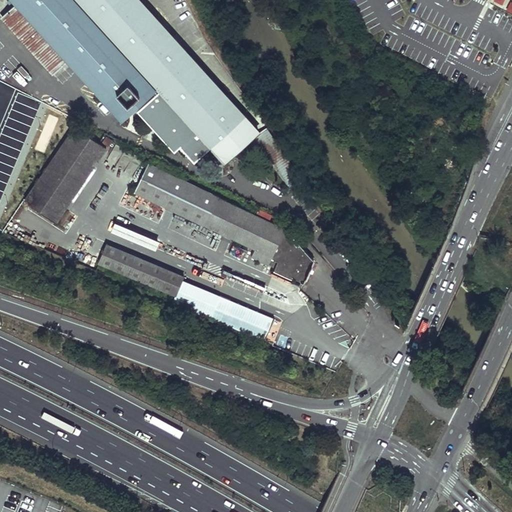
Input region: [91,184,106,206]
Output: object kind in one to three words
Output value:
vehicle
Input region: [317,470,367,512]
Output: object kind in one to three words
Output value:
overpass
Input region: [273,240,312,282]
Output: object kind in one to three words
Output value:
building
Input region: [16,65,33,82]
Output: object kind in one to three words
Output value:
vehicle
